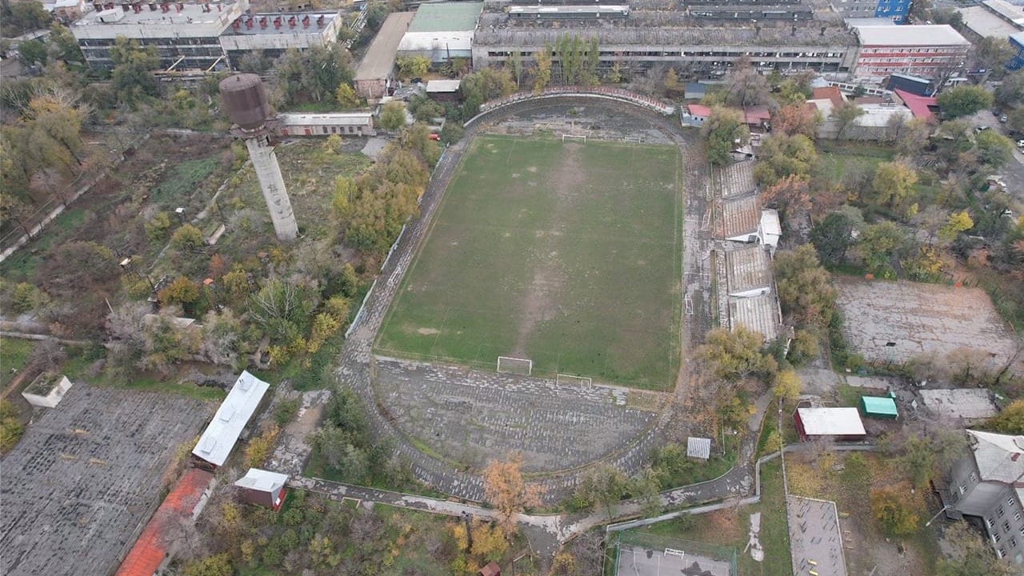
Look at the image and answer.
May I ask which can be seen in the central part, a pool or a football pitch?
football pitch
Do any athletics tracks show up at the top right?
No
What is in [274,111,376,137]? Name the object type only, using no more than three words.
building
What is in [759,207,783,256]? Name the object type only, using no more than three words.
building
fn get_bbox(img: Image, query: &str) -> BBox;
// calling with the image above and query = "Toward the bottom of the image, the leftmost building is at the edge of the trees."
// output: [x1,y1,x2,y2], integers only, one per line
[21,371,71,406]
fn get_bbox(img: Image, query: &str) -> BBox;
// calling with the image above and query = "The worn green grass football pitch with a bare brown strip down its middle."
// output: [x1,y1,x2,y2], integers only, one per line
[375,135,682,393]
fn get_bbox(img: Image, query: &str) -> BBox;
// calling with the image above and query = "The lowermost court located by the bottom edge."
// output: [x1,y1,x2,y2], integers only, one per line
[617,547,731,576]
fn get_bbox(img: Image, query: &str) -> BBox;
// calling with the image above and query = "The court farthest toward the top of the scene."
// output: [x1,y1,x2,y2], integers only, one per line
[835,277,1021,376]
